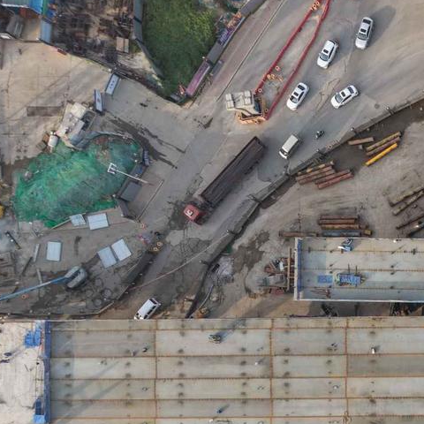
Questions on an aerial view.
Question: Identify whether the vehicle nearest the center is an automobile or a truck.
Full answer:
The vehicle nearest the center is a truck.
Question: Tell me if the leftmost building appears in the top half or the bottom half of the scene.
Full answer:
Seen from above, the leftmost building lies in the top half of the view.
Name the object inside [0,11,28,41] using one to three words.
building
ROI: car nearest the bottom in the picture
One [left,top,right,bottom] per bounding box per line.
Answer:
[135,294,162,319]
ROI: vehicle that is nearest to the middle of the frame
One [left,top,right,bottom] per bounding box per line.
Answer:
[189,134,269,216]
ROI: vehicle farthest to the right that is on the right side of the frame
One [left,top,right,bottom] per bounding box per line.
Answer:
[356,17,374,50]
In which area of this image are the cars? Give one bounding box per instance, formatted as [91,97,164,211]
[330,83,360,109]
[356,17,374,50]
[277,130,303,161]
[135,294,162,319]
[317,36,339,70]
[285,80,310,112]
